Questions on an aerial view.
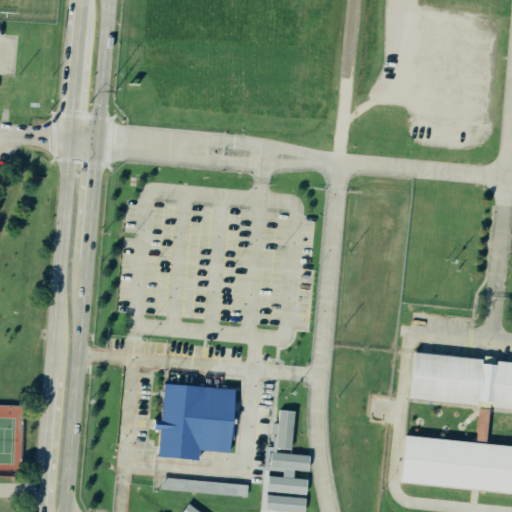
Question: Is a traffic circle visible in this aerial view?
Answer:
No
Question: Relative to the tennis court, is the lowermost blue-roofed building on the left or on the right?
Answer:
right of it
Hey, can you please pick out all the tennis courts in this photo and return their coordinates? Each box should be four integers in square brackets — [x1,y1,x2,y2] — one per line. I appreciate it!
[0,406,24,478]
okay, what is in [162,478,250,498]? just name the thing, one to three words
shed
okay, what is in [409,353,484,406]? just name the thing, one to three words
building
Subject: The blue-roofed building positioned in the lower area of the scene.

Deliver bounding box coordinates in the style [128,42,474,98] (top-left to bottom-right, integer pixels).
[154,372,242,460]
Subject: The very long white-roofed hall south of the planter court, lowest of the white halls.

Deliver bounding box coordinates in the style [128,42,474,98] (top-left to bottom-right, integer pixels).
[402,436,512,493]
